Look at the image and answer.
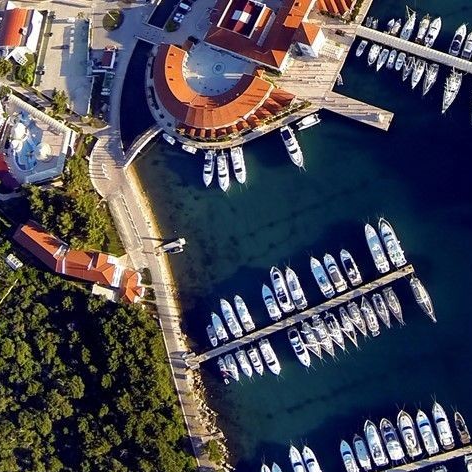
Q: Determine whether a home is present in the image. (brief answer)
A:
Yes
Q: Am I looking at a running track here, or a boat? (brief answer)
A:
boat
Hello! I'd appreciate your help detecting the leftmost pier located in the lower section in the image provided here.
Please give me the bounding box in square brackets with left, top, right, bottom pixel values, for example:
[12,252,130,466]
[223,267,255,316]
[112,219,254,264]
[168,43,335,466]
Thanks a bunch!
[198,264,414,362]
